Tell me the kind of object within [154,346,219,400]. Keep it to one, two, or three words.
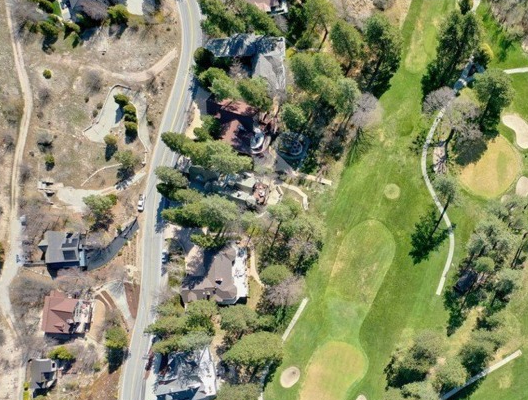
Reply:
house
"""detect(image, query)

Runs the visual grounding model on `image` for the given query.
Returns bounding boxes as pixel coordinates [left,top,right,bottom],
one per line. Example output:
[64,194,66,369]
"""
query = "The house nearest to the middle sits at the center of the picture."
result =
[190,165,271,209]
